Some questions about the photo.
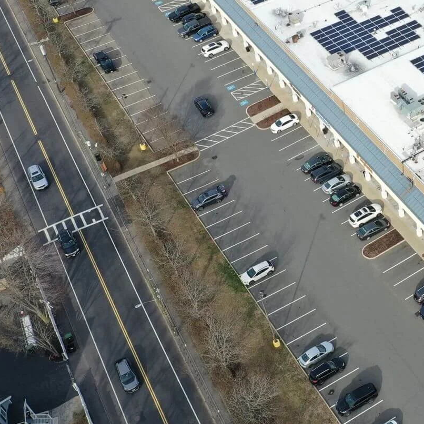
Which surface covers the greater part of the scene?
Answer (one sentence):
What you mostly see from above here is paved ground.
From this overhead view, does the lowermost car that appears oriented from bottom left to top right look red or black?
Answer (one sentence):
The lowermost car that appears oriented from bottom left to top right looks black in the image.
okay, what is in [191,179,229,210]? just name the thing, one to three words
car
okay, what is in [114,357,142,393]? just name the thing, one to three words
car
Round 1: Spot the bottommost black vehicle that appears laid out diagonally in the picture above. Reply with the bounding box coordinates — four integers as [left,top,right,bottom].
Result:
[335,380,380,417]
